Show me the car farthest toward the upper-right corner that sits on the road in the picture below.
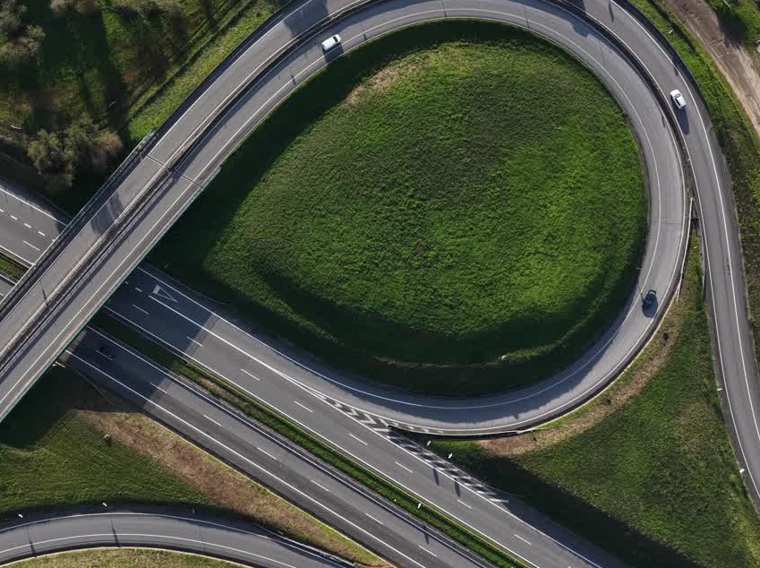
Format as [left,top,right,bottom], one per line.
[670,89,686,110]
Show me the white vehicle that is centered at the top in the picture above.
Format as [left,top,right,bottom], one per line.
[319,35,343,52]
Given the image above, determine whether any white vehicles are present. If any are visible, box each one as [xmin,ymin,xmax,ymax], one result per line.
[670,89,686,110]
[319,35,343,52]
